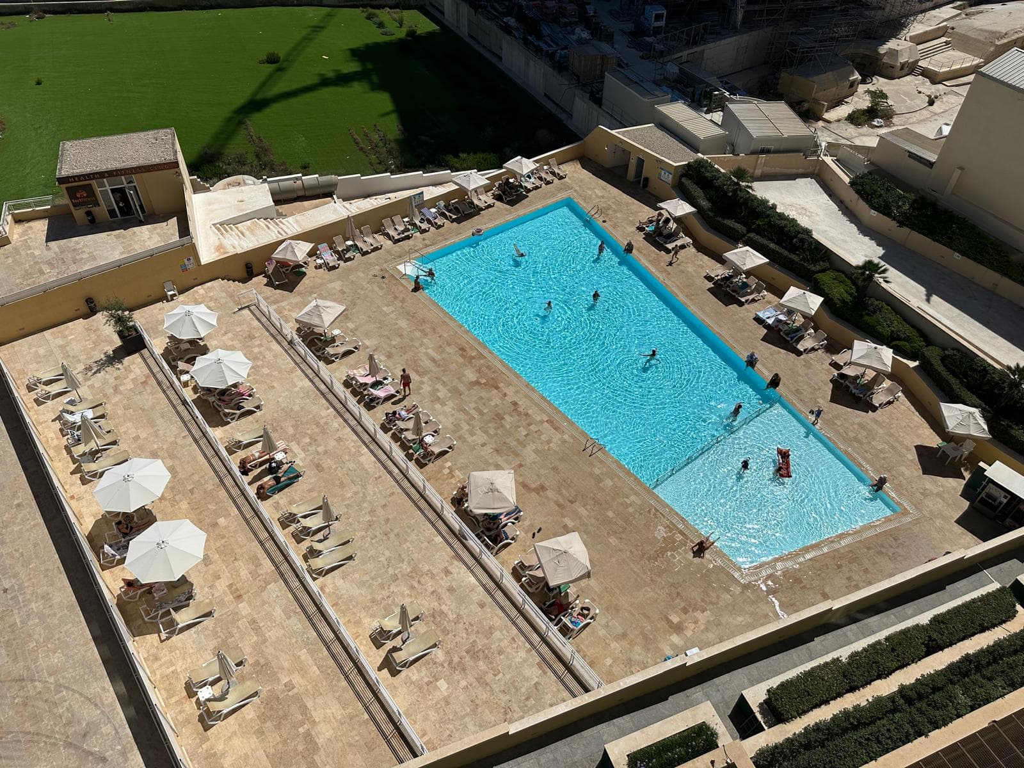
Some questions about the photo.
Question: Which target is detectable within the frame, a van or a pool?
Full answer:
The image shows a pool.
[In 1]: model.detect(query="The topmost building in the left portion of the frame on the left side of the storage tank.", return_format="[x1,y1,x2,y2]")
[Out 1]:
[56,128,186,225]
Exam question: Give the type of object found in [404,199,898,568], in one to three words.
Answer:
swimming pool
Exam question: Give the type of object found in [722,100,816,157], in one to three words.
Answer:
building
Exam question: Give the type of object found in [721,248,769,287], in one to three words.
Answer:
umbrella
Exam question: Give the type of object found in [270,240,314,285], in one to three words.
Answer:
umbrella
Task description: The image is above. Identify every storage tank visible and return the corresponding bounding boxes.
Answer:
[263,172,337,201]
